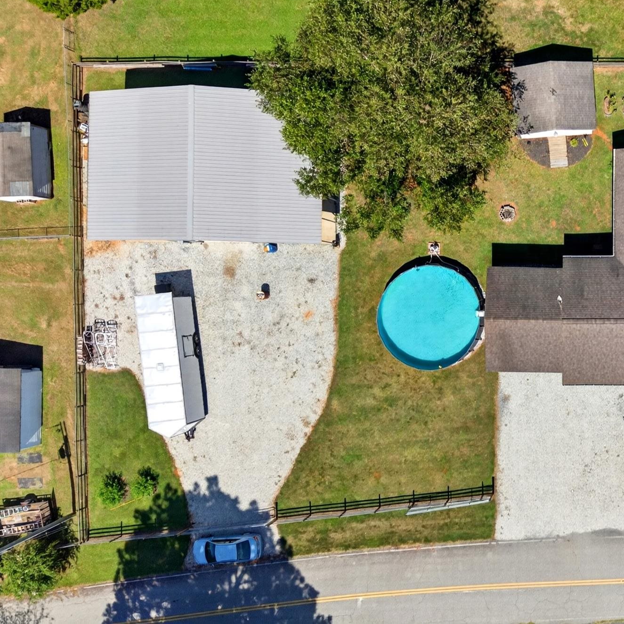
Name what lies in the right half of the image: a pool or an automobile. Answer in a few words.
pool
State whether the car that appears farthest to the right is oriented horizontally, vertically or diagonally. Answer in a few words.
horizontally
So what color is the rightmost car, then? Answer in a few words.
blue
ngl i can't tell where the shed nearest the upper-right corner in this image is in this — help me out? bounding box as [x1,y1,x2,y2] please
[516,60,596,139]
